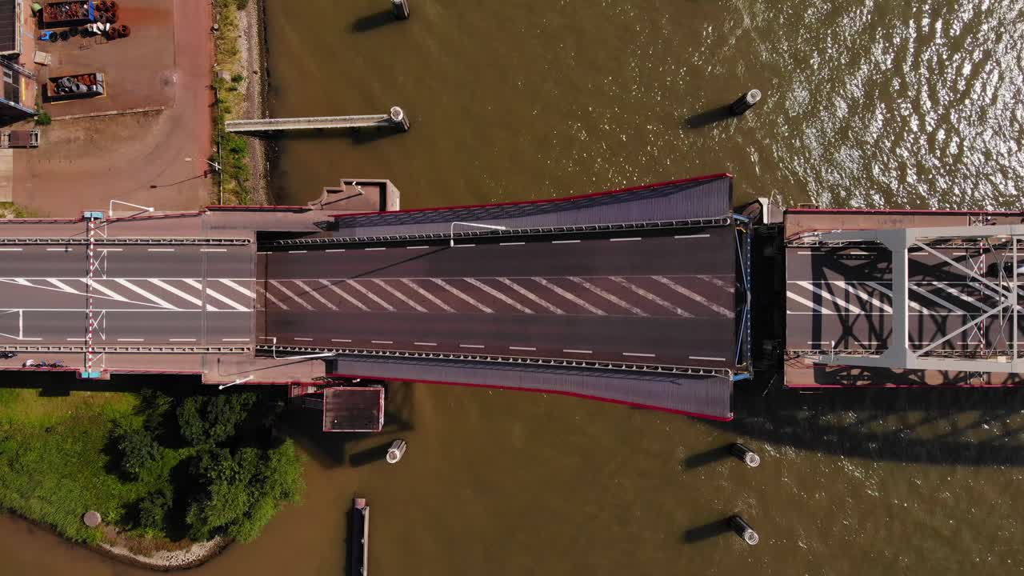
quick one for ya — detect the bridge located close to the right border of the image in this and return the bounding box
[780,200,1024,392]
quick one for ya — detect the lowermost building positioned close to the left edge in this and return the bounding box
[0,61,38,121]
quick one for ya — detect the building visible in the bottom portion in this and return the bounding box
[293,379,395,431]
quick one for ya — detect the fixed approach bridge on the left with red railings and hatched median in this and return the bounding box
[0,206,333,385]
